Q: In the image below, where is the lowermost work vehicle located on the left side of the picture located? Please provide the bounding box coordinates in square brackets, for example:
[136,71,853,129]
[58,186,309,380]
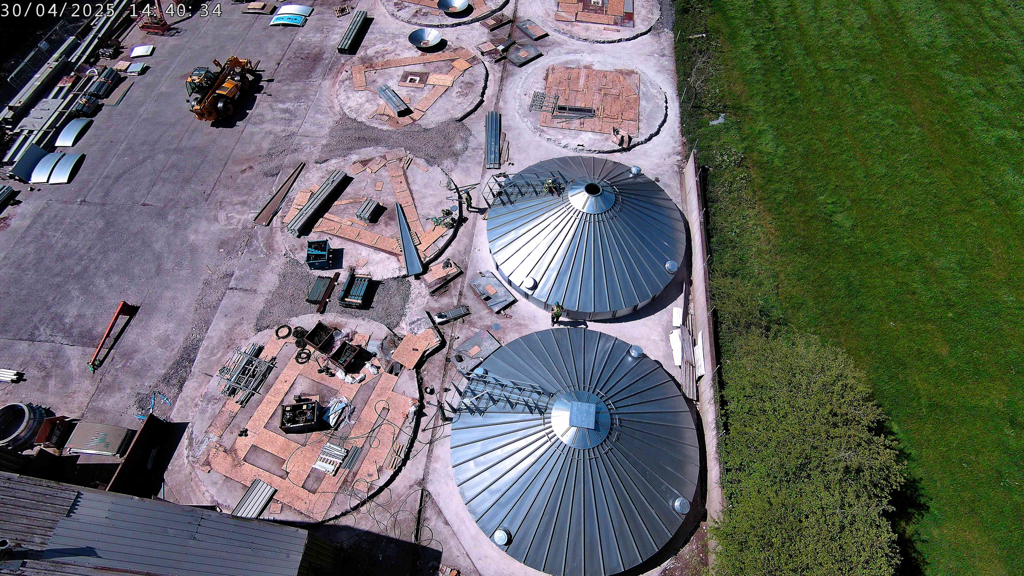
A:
[182,56,269,124]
